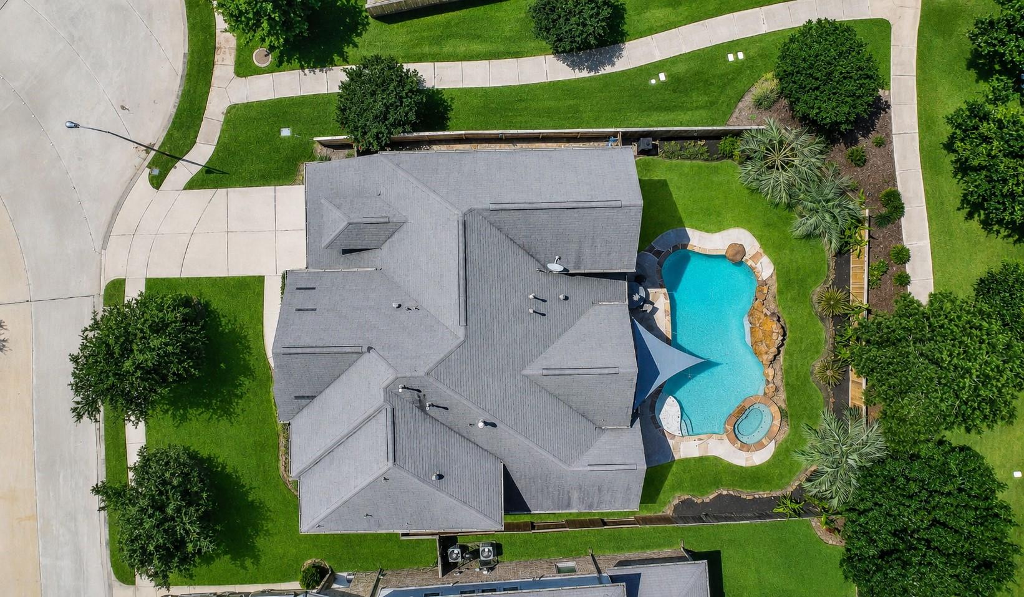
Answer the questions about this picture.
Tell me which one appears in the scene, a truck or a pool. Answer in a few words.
pool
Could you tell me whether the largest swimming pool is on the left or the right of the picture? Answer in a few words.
right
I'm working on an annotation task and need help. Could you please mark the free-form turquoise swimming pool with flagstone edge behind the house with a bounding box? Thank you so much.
[648,242,766,443]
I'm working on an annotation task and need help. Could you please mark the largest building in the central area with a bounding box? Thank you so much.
[272,145,647,535]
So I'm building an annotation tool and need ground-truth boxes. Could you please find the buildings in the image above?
[360,557,711,597]
[272,145,647,535]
